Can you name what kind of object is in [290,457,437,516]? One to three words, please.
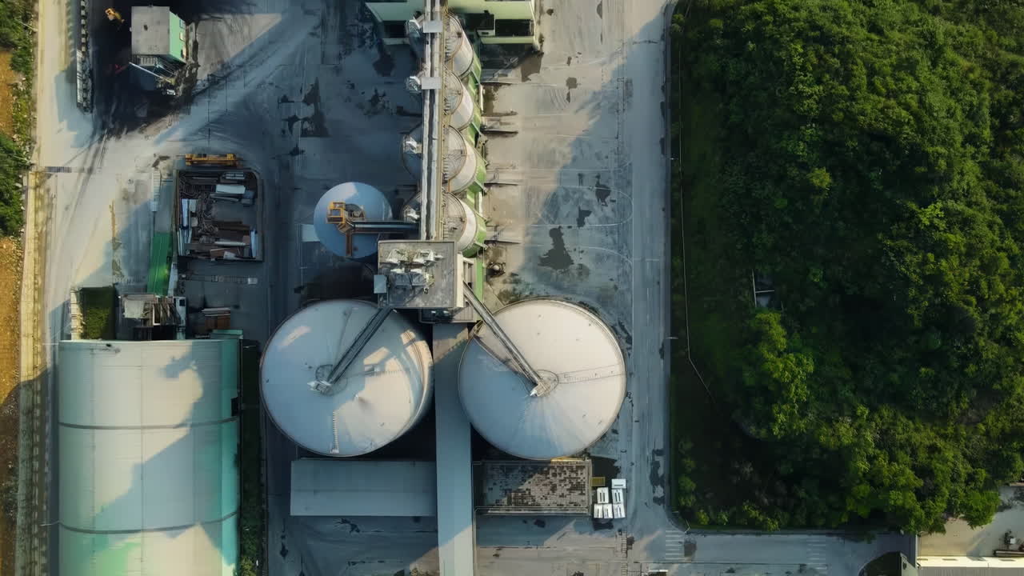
building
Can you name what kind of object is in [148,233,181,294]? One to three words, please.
shed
